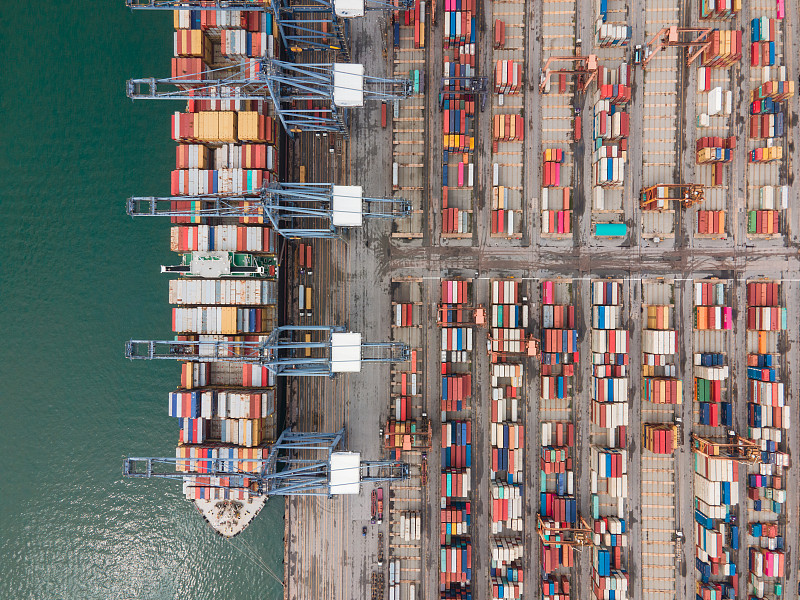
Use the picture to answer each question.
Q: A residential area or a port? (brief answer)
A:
port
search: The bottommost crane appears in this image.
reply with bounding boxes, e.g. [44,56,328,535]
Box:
[538,507,593,548]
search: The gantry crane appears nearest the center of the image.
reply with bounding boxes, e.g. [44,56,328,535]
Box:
[438,302,488,328]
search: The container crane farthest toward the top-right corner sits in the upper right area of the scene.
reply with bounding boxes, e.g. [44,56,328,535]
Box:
[642,20,712,67]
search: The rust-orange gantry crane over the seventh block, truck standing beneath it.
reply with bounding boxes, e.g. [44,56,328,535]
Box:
[692,432,766,466]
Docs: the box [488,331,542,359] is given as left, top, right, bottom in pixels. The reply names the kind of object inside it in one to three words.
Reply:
container crane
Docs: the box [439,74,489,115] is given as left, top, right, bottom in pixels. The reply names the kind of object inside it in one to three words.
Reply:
container crane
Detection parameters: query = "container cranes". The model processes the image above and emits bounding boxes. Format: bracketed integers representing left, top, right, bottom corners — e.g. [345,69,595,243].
[122,0,406,70]
[641,182,706,210]
[119,316,404,380]
[439,74,489,115]
[488,331,542,359]
[692,432,766,466]
[642,20,712,67]
[120,182,405,248]
[438,302,488,328]
[540,52,599,95]
[538,507,593,548]
[118,416,403,500]
[384,414,432,449]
